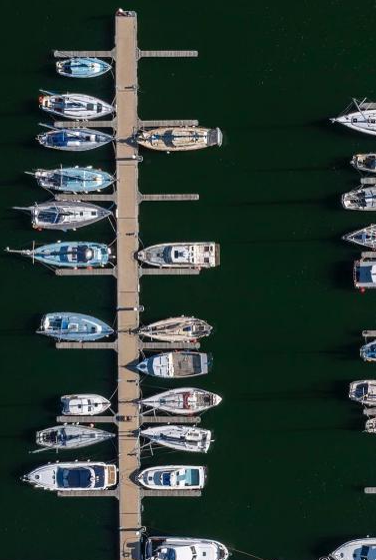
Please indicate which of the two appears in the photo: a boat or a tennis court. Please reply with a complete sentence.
It is a boat that can be seen here.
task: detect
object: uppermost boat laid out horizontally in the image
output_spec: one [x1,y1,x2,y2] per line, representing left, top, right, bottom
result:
[55,56,117,79]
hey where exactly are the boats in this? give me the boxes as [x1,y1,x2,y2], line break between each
[15,197,117,233]
[115,314,215,344]
[29,123,117,154]
[8,239,117,273]
[341,224,376,254]
[131,421,219,465]
[330,98,376,136]
[55,56,117,79]
[26,165,117,198]
[134,237,224,271]
[142,531,259,560]
[351,153,376,173]
[366,414,376,435]
[35,87,117,123]
[63,391,117,416]
[21,422,118,461]
[20,458,121,491]
[361,336,376,362]
[342,182,376,212]
[136,465,213,490]
[134,384,224,421]
[330,533,376,560]
[349,381,376,411]
[112,118,220,153]
[354,260,376,291]
[38,313,119,344]
[133,349,216,382]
